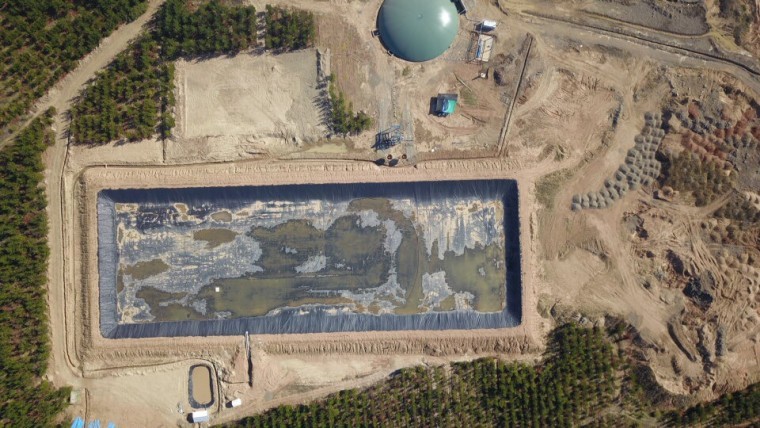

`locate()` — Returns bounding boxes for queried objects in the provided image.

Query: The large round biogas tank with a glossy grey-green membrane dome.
[372,0,460,63]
